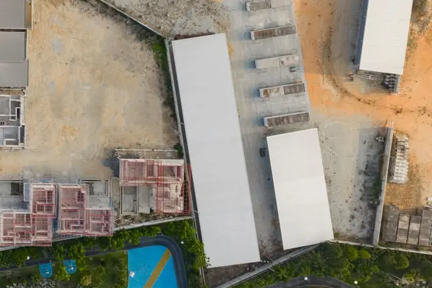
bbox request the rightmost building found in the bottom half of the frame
[262,128,334,250]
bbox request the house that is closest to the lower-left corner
[0,180,55,246]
